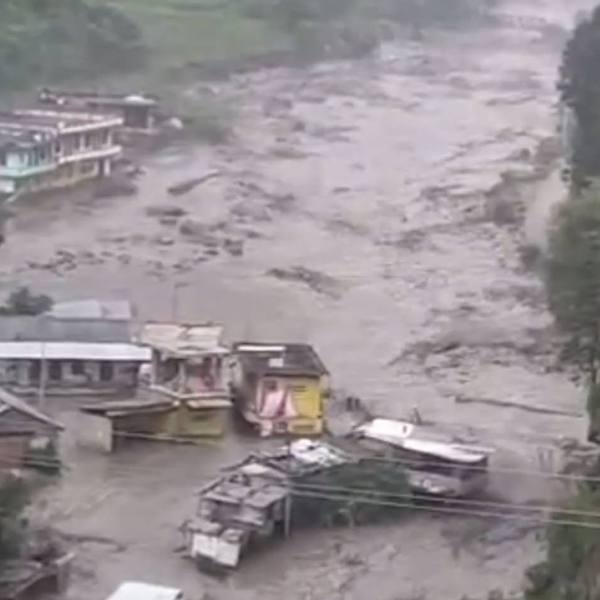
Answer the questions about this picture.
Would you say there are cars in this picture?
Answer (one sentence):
No, the photo shows no car.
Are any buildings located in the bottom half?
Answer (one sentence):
Yes, you'll find a building in the bottom half.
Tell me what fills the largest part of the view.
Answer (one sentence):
Most of the picture is covered by water.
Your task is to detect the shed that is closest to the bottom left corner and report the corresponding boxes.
[0,543,74,600]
